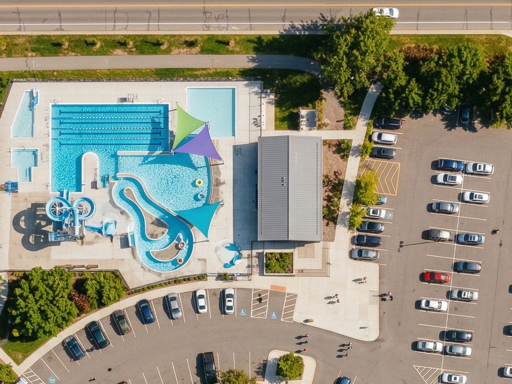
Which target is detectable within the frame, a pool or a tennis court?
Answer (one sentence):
Of the two, only a pool appears.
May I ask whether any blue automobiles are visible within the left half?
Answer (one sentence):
Yes, a blue automobile can be seen within the left half.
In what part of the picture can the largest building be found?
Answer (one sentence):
Look in the center portion of the view to spot the largest building.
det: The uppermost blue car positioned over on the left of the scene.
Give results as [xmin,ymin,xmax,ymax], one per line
[138,298,155,325]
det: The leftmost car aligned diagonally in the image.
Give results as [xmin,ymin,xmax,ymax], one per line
[67,336,88,362]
